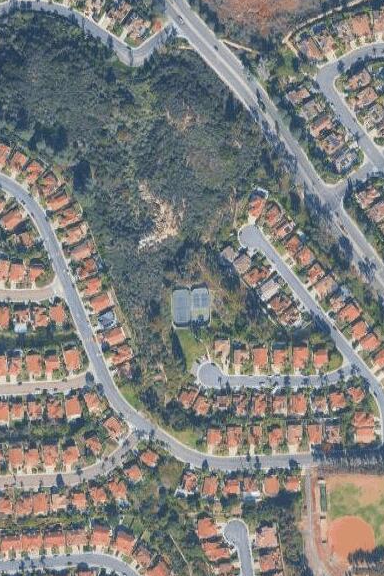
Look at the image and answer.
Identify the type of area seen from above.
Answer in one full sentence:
It's a residential area.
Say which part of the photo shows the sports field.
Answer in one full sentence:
You can find the sports field in the bottom right area of the picture.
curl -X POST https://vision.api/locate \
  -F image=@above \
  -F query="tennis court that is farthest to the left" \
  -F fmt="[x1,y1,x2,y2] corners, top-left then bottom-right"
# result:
[173,289,191,323]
